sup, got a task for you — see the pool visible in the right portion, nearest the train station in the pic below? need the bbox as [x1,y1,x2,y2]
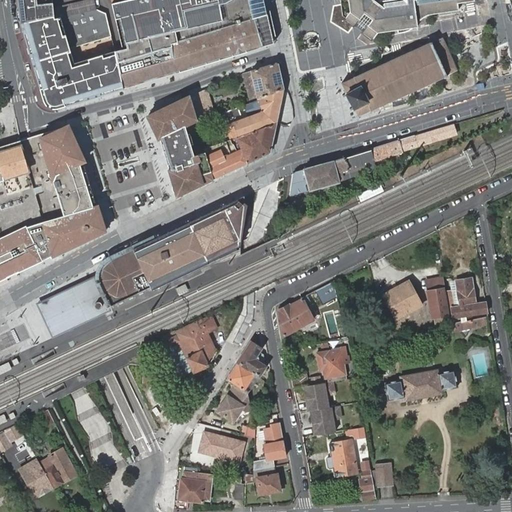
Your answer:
[323,310,340,338]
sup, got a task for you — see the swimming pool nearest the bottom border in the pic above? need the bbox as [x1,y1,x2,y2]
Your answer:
[470,352,490,379]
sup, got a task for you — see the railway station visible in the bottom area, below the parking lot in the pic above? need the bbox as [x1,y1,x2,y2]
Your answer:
[0,240,276,425]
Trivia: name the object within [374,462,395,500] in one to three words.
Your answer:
shed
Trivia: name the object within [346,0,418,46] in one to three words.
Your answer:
building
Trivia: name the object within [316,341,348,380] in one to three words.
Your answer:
house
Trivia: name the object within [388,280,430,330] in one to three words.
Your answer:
barn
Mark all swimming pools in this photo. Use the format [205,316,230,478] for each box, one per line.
[470,352,490,379]
[323,310,340,338]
